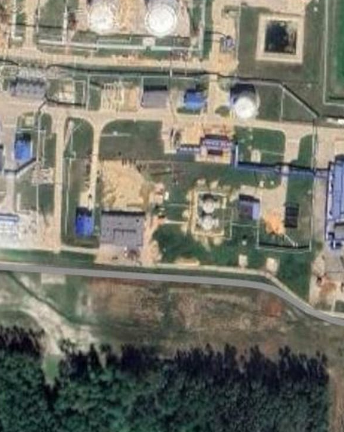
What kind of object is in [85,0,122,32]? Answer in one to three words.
storage tank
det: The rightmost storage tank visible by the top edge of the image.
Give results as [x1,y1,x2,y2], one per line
[145,0,180,37]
